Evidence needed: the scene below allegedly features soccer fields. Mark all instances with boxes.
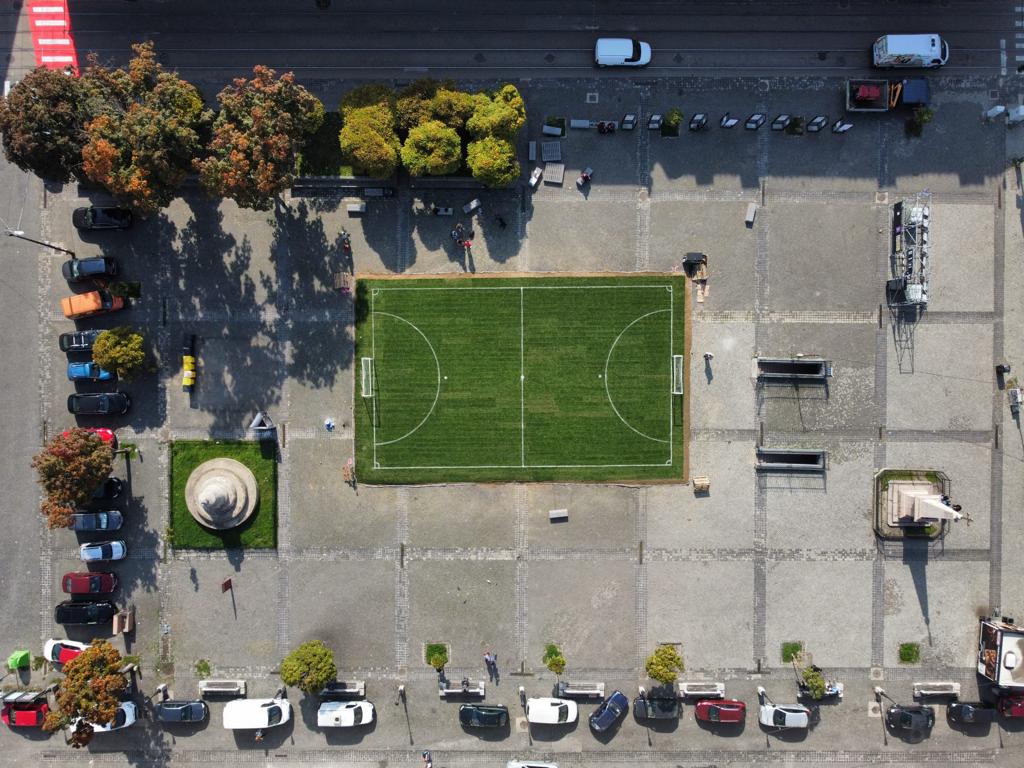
[355,272,691,486]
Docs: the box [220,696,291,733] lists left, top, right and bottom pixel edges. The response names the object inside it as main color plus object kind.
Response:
white van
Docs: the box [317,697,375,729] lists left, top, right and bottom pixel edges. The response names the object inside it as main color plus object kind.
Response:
white van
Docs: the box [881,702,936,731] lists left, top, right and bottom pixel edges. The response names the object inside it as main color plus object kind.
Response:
black car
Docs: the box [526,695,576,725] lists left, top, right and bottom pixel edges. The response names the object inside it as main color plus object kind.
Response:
white car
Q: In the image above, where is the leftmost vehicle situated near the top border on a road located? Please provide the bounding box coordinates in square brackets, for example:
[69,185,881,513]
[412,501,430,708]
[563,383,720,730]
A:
[594,38,649,69]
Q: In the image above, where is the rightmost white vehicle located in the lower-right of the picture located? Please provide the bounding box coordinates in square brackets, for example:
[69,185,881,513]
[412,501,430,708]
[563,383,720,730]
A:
[756,700,811,728]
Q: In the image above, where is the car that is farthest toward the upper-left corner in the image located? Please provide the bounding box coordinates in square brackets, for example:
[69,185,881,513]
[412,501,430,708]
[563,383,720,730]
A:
[75,204,133,231]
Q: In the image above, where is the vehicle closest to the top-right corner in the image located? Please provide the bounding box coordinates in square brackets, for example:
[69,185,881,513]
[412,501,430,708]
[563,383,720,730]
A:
[869,32,943,69]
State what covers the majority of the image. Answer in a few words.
paved ground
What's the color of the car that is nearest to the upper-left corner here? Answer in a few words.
black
